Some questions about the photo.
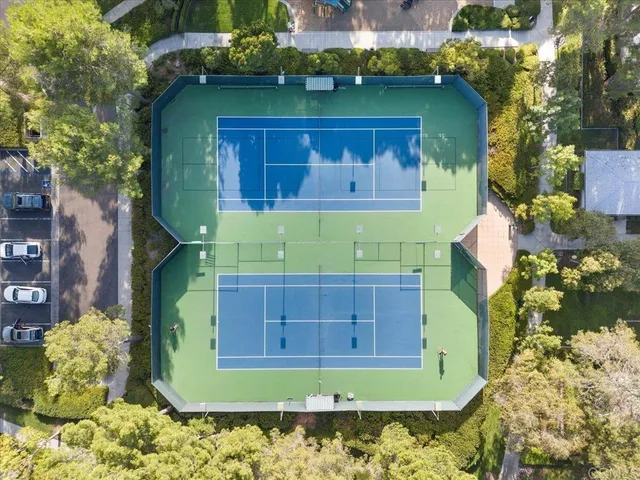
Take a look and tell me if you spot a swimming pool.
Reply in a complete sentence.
No, there appears to be no swimming pool in this shot.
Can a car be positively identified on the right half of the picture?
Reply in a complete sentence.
No, I see no car on the right half of the picture.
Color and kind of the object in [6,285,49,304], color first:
white car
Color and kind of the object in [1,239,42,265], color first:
white car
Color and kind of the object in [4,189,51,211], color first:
blue truck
